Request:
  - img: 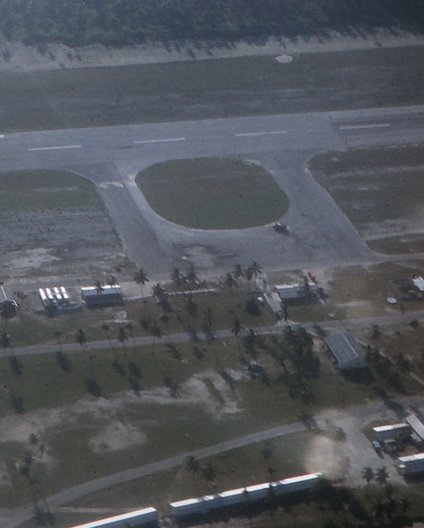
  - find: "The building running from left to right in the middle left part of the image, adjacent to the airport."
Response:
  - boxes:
[78,285,125,305]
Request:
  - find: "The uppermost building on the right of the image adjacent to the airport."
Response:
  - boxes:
[271,282,322,306]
